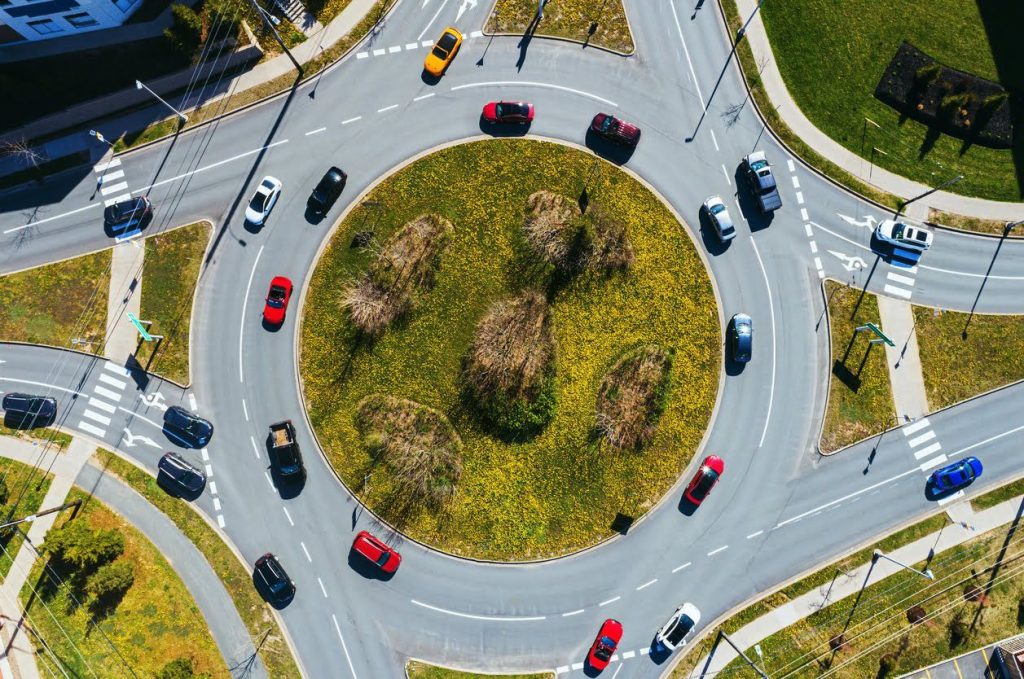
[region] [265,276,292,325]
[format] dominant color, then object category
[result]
red car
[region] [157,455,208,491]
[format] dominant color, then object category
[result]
black car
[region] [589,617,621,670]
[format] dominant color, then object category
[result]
red car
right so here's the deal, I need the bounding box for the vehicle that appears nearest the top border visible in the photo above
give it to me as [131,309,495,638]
[428,28,462,76]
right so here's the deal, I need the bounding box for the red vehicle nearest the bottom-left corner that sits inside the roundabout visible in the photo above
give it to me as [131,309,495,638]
[353,533,401,570]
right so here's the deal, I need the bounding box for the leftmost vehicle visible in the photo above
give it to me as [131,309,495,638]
[0,393,58,417]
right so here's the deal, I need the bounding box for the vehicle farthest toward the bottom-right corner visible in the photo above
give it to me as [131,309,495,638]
[928,459,980,493]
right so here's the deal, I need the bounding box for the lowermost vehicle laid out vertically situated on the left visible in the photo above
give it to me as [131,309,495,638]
[271,420,302,482]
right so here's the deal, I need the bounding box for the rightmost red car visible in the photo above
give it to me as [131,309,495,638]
[686,454,721,505]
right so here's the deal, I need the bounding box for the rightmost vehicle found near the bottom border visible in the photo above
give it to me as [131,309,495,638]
[660,603,698,652]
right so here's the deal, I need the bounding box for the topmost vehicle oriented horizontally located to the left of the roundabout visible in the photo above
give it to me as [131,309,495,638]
[105,196,153,224]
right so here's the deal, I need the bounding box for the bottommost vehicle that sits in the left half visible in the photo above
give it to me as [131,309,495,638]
[254,555,295,603]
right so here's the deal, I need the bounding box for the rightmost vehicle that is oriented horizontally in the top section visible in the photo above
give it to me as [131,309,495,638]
[877,221,931,251]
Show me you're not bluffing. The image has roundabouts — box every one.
[190,30,825,673]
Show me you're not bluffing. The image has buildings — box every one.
[0,0,142,47]
[999,637,1024,679]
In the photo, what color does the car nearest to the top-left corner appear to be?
black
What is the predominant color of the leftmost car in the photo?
black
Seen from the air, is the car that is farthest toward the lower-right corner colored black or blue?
blue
